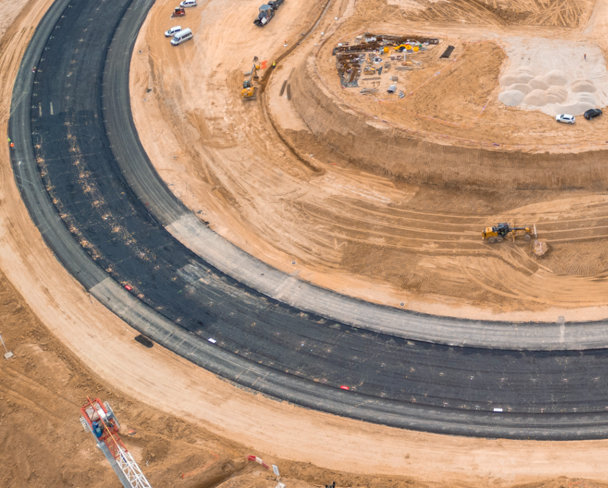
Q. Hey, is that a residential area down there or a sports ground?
sports ground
